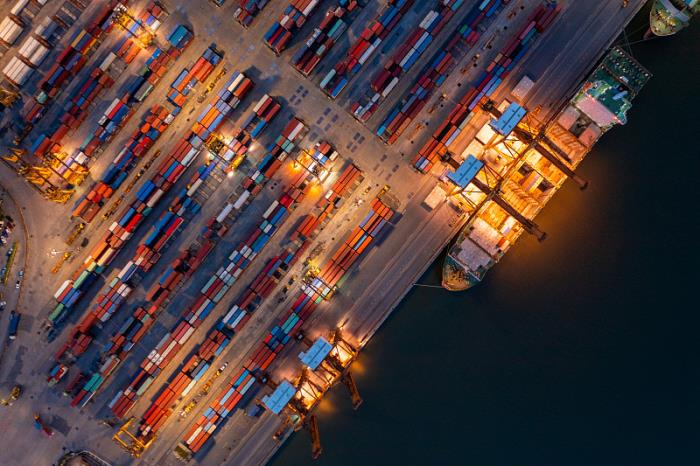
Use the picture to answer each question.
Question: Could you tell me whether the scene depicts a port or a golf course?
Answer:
port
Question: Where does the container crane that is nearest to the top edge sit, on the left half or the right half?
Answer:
left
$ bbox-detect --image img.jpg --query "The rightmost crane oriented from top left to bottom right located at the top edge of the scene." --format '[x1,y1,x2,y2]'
[112,4,163,52]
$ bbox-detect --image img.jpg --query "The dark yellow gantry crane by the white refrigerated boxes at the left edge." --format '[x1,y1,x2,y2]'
[0,84,47,122]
